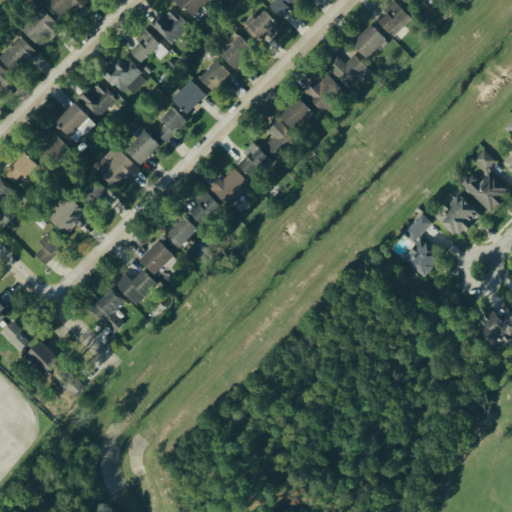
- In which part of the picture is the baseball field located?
bottom left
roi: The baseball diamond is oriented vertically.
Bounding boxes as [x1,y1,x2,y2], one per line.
[0,372,40,481]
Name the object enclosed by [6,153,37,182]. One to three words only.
house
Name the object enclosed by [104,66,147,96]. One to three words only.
house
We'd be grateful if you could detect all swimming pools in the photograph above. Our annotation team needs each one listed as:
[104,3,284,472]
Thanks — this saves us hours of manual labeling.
[394,240,408,255]
[161,295,175,307]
